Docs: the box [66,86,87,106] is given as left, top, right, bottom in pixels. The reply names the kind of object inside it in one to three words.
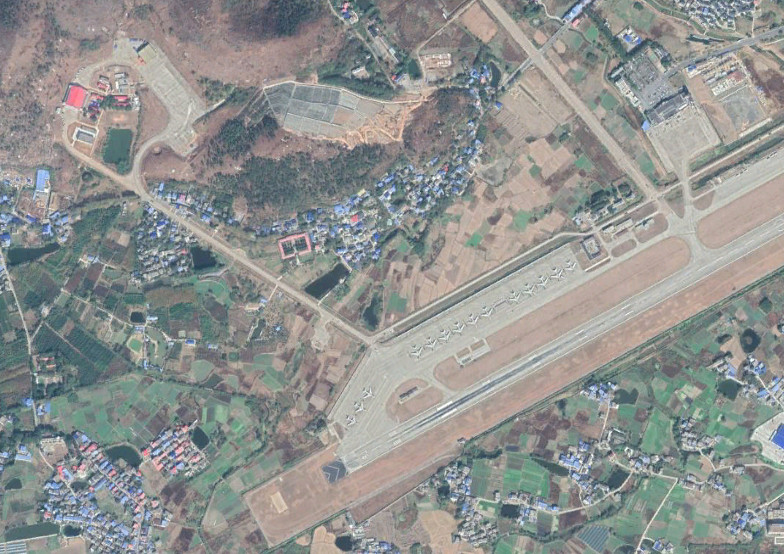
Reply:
building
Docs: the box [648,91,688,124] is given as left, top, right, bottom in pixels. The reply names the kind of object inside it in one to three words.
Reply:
building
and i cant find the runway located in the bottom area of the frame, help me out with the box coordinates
[339,212,784,474]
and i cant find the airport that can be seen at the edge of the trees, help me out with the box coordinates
[243,105,784,548]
